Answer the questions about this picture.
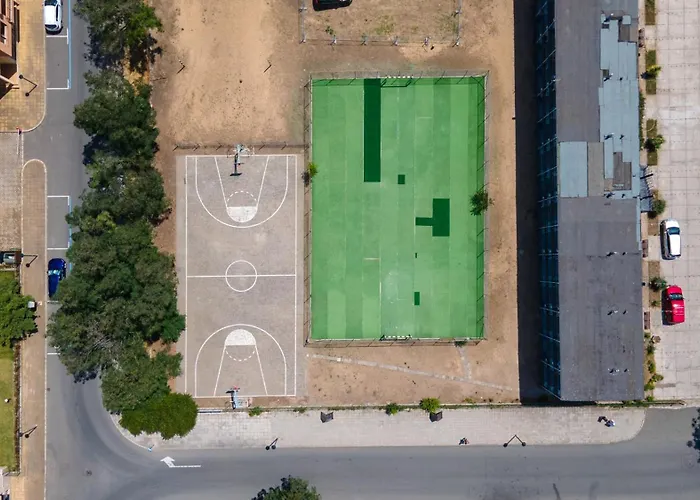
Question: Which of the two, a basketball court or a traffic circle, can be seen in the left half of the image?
basketball court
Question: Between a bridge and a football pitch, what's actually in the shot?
football pitch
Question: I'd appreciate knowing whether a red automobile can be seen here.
Yes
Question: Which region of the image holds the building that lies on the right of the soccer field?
right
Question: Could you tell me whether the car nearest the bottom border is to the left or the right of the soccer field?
right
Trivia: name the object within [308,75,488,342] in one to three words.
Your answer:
soccer field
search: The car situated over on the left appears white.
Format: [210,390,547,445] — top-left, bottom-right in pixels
[42,0,64,31]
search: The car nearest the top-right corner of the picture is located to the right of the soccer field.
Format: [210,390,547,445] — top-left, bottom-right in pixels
[659,221,682,259]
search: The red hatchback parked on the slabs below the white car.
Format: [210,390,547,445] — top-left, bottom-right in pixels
[660,286,682,324]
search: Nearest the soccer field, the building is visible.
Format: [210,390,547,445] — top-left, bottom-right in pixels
[534,0,657,402]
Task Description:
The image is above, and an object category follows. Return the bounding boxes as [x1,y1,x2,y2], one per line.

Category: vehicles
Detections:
[660,286,682,324]
[45,259,66,298]
[314,0,353,8]
[42,0,64,31]
[659,221,682,259]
